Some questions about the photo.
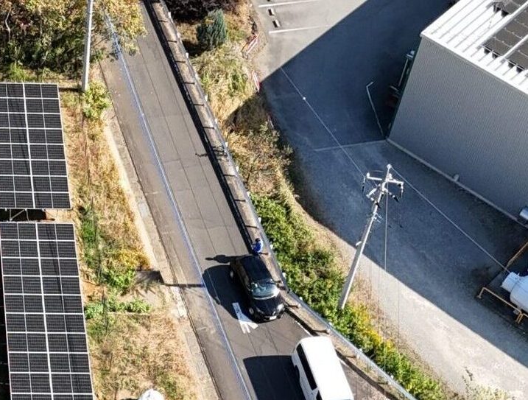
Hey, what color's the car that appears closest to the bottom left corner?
black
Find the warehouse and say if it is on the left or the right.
right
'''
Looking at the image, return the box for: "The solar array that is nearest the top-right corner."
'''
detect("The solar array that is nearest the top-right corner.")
[477,0,528,79]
